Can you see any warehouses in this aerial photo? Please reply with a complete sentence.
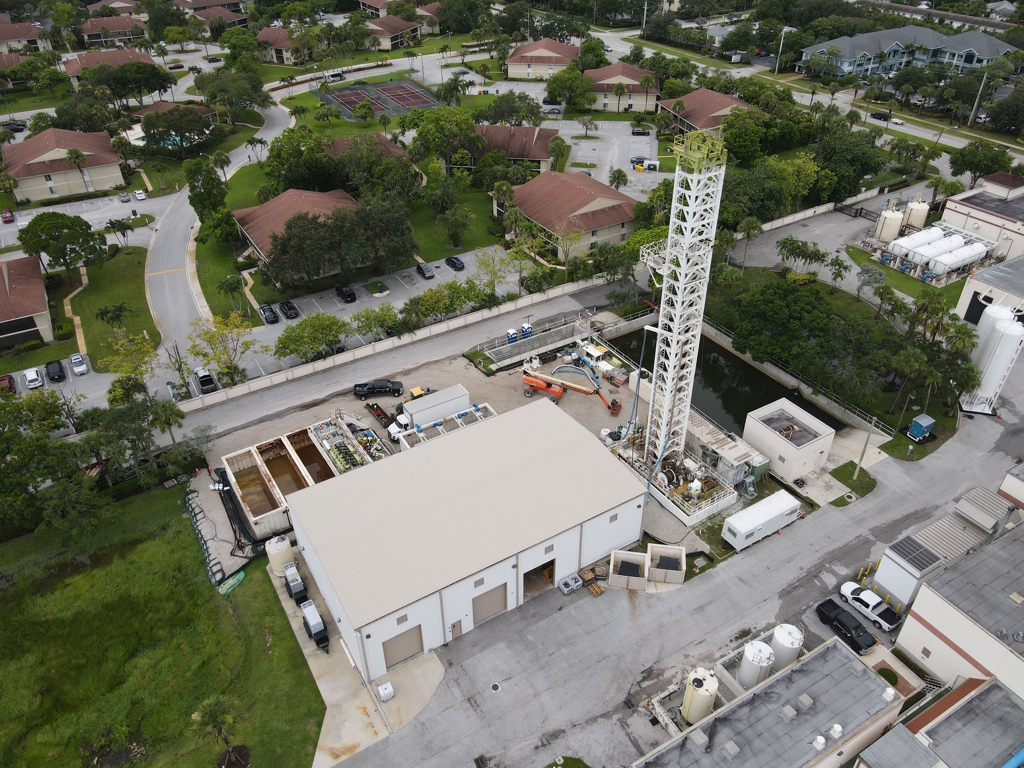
Yes, there is a warehouse in the image.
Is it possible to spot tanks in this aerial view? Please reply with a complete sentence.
Yes, a tank appears in the view.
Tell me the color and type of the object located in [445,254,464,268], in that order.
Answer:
black car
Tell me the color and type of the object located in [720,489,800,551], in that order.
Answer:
white trailer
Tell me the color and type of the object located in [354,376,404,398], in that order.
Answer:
black truck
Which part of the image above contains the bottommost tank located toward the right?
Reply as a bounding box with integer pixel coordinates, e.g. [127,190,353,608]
[675,677,719,726]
